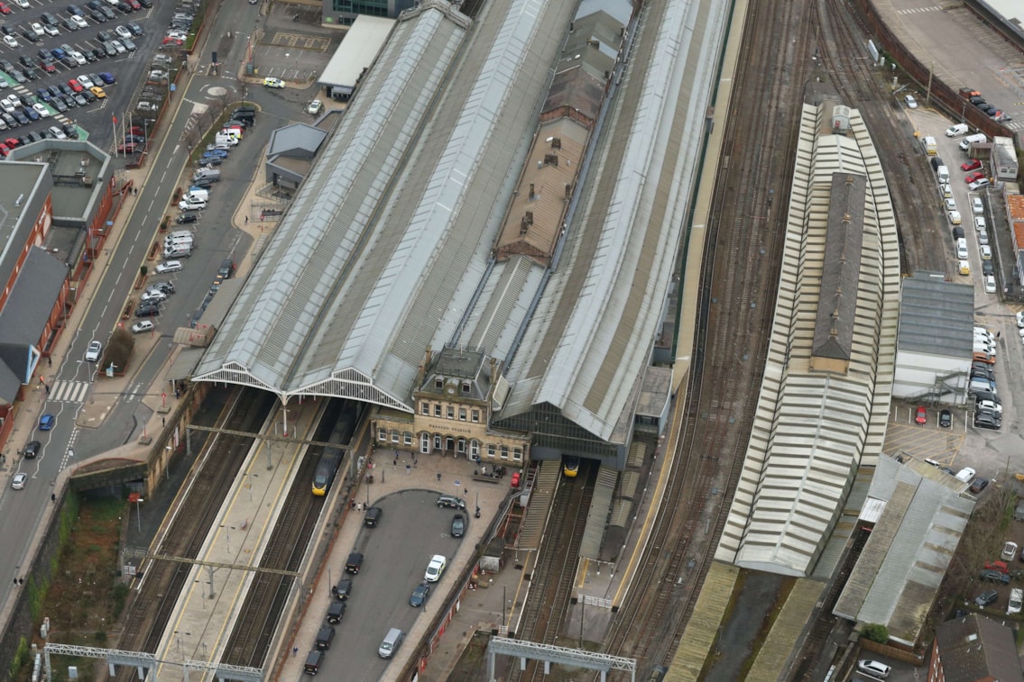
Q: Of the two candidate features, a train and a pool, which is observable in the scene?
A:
train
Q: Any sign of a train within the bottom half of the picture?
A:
Yes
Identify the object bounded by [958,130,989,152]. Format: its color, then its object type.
white vehicle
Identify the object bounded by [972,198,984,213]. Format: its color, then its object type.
white vehicle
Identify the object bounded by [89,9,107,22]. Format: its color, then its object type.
gray vehicle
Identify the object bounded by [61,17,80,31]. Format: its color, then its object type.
gray car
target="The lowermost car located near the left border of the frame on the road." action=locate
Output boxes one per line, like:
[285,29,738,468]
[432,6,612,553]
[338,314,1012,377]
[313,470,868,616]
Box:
[12,472,27,491]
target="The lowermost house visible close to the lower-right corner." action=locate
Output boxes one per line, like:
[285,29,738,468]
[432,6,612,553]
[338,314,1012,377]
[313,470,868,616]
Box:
[933,613,1023,682]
